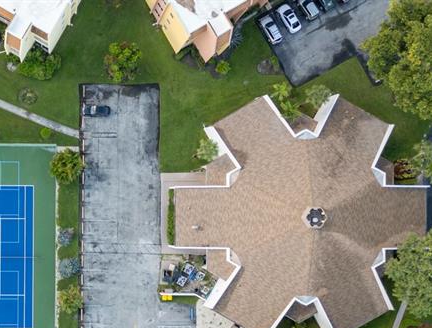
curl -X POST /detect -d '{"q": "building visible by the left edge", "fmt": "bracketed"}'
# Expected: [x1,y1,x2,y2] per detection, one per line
[0,0,93,62]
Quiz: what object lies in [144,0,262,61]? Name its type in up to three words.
building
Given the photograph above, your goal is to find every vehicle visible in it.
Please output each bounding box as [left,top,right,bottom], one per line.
[317,0,334,11]
[83,104,112,117]
[295,0,319,23]
[260,16,283,46]
[277,5,299,34]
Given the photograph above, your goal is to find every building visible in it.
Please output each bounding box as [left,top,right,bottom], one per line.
[168,89,431,328]
[144,0,262,61]
[0,0,93,62]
